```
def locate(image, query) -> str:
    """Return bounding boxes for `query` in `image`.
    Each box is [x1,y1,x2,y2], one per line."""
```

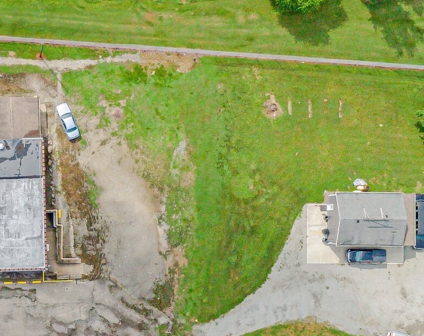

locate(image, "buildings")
[325,191,415,247]
[0,139,51,276]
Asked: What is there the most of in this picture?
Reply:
grass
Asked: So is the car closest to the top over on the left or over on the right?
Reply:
left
